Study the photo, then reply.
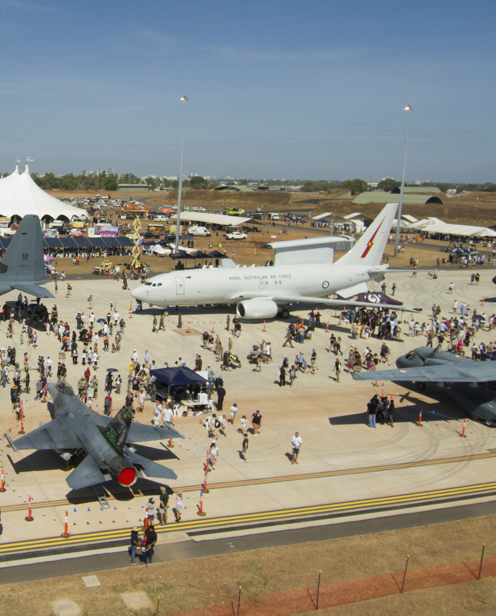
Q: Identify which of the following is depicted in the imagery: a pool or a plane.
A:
plane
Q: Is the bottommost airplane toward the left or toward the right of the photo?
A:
left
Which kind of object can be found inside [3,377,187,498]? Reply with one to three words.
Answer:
airplane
